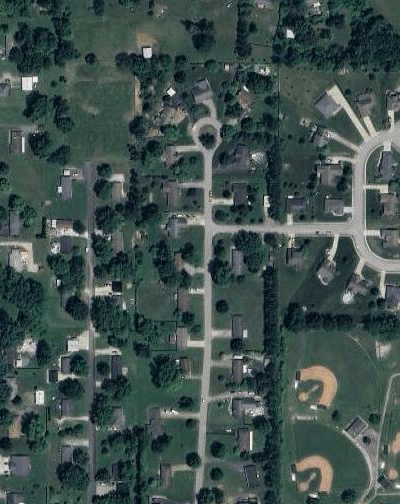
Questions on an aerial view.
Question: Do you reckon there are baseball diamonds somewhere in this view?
Yes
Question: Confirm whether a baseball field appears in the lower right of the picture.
Yes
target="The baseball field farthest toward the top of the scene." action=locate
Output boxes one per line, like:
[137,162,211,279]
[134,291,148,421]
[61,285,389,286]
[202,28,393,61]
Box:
[298,324,380,406]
